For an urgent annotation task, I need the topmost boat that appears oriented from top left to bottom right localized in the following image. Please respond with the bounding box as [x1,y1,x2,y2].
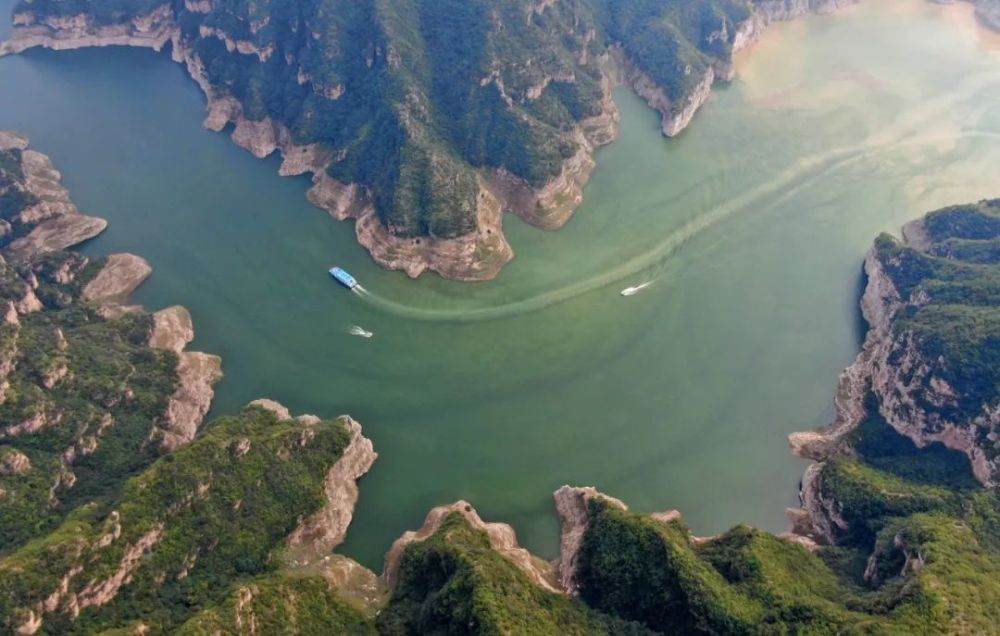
[331,268,357,288]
